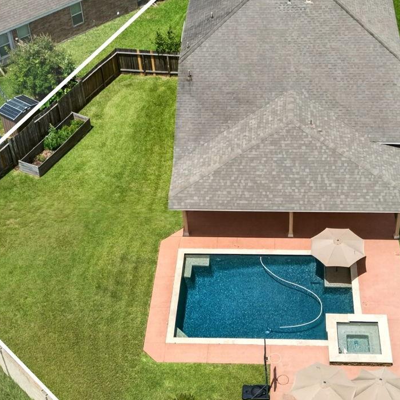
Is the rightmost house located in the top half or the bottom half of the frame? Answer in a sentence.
The rightmost house is in the top half of the image.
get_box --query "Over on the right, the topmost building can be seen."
[166,0,400,236]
